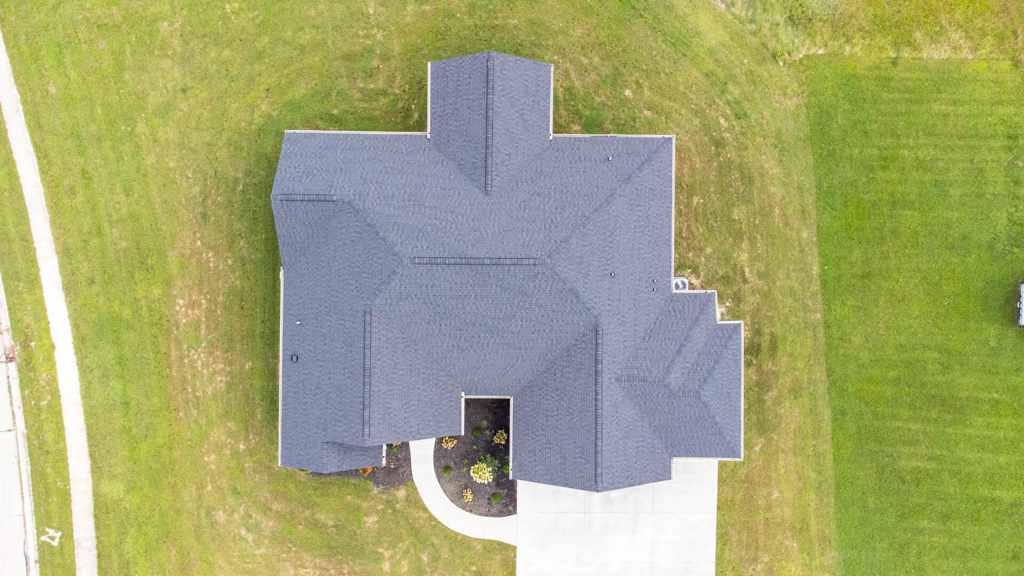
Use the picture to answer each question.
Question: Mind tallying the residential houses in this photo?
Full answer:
The picture shows 1 residential house.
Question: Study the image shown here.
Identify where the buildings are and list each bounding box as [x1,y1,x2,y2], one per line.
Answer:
[270,51,745,493]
